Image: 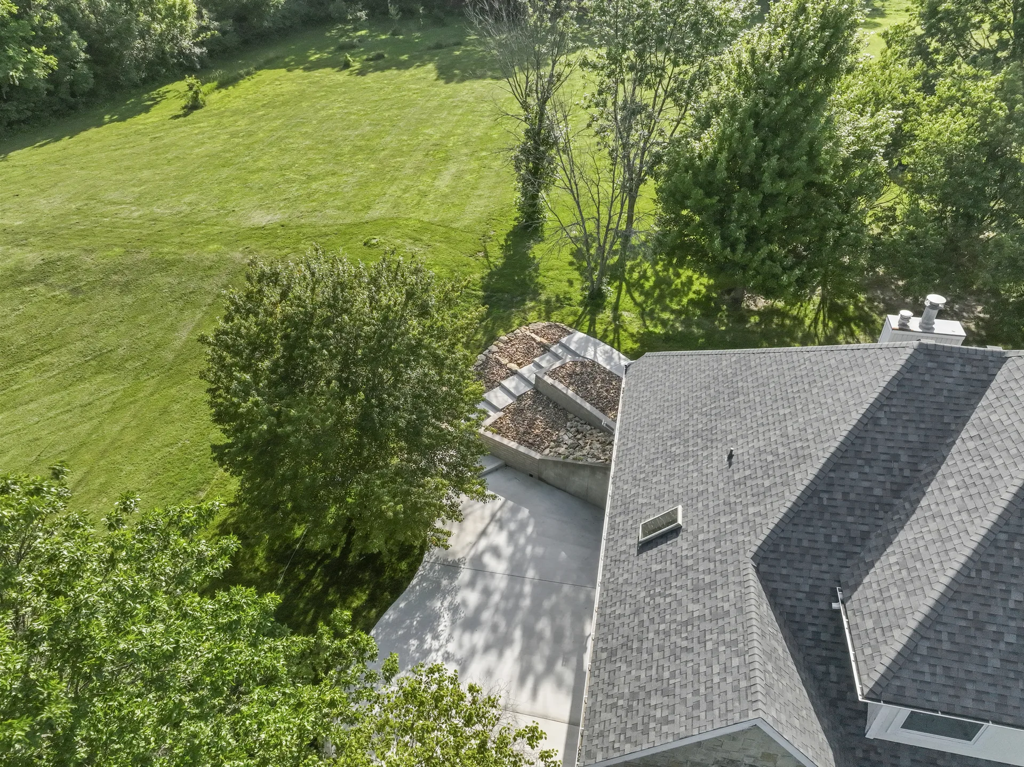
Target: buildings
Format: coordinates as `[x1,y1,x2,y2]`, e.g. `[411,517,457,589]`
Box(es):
[572,294,1024,767]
